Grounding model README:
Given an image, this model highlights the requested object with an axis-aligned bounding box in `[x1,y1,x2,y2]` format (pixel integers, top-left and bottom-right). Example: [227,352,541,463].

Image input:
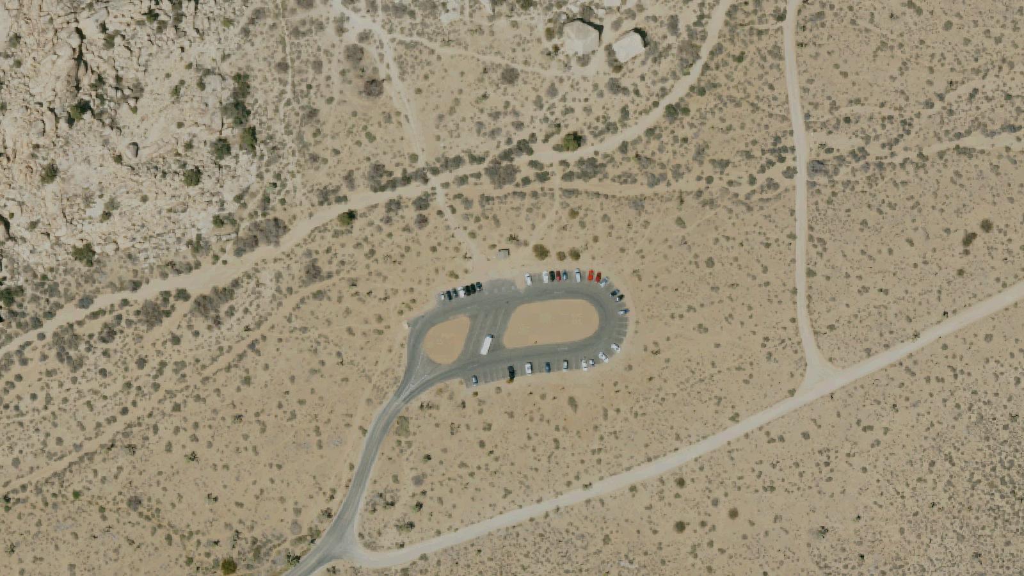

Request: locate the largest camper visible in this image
[480,335,494,355]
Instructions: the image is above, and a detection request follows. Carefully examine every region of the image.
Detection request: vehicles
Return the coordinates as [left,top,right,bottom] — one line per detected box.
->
[595,272,602,283]
[589,358,594,366]
[543,270,548,283]
[575,268,581,283]
[556,270,561,281]
[477,282,482,291]
[470,283,476,294]
[550,270,555,281]
[440,291,446,301]
[610,288,620,297]
[451,288,459,298]
[588,269,594,281]
[480,335,494,355]
[618,308,630,314]
[599,276,609,287]
[525,273,532,286]
[615,294,625,302]
[473,375,478,385]
[545,362,550,372]
[609,342,620,353]
[445,290,453,301]
[598,351,609,363]
[580,359,588,372]
[526,362,532,375]
[563,360,568,371]
[458,287,465,299]
[464,285,471,296]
